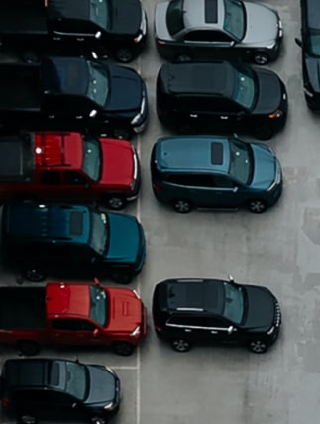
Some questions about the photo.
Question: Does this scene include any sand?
No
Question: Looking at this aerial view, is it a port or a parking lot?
parking lot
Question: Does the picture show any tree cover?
No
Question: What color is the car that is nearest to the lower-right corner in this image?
black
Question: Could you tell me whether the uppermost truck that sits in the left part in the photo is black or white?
black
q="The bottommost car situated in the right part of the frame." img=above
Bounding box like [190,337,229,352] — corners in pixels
[152,276,282,353]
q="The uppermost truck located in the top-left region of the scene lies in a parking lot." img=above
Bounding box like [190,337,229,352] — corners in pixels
[0,0,146,63]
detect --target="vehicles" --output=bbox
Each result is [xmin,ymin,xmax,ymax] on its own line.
[0,354,121,424]
[152,276,282,353]
[154,0,284,65]
[0,55,147,136]
[155,62,289,139]
[0,127,140,208]
[0,202,145,283]
[0,276,146,355]
[150,134,283,214]
[0,0,146,63]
